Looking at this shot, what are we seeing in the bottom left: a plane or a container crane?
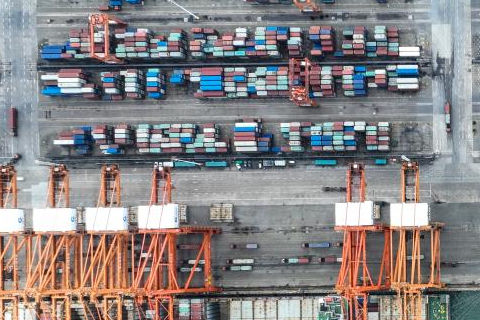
container crane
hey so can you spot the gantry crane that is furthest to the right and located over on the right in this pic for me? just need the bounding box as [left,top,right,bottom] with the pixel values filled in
[388,159,445,320]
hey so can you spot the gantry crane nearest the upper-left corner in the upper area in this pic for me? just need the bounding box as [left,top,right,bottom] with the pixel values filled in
[89,14,127,63]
